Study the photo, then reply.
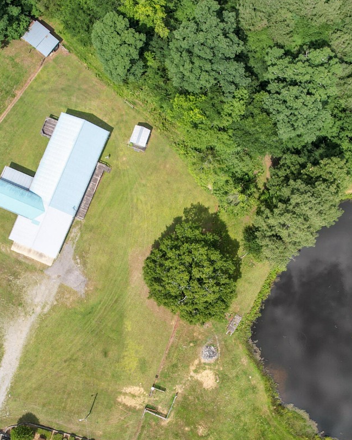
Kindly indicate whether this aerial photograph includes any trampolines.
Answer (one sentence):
No, the photo shows no trampoline.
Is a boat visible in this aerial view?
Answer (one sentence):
No, the photo shows no boat.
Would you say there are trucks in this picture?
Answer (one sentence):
No, the scene contains no truck.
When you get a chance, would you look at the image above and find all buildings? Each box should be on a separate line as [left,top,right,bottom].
[0,112,109,257]
[130,125,151,150]
[22,21,59,59]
